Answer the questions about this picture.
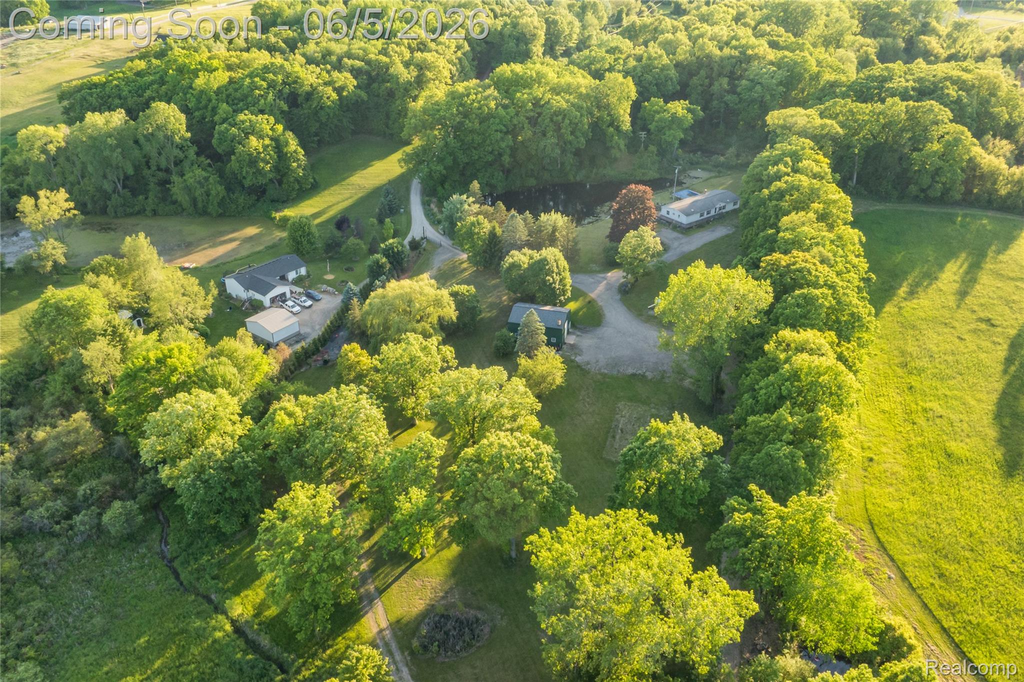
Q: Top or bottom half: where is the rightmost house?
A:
top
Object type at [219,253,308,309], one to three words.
house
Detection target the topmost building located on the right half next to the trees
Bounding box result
[664,186,741,229]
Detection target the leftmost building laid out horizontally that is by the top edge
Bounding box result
[62,13,113,30]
